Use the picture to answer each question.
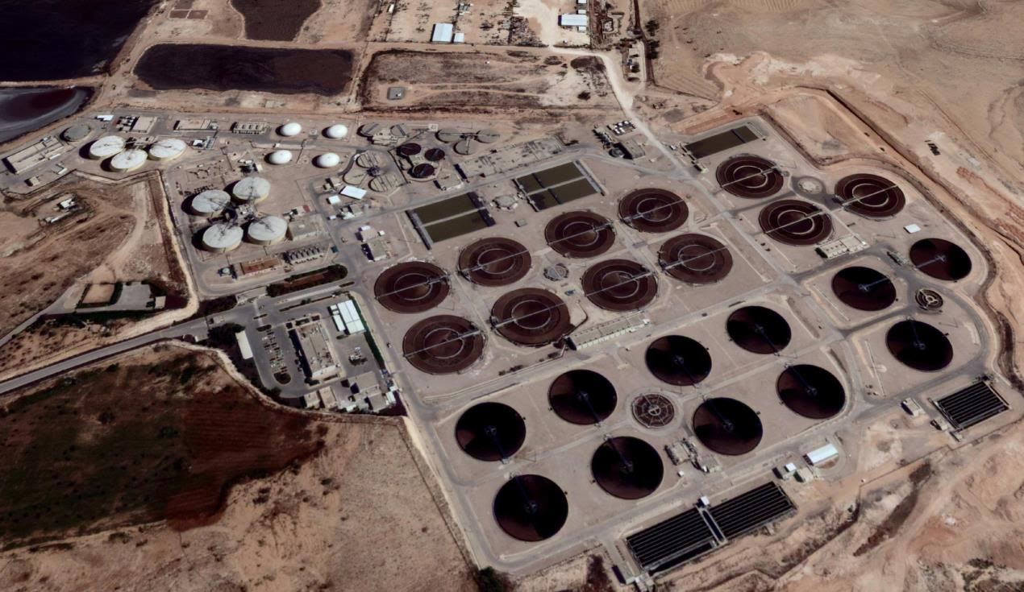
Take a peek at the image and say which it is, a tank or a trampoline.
tank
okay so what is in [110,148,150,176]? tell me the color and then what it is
white storage tank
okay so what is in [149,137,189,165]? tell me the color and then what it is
white storage tank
